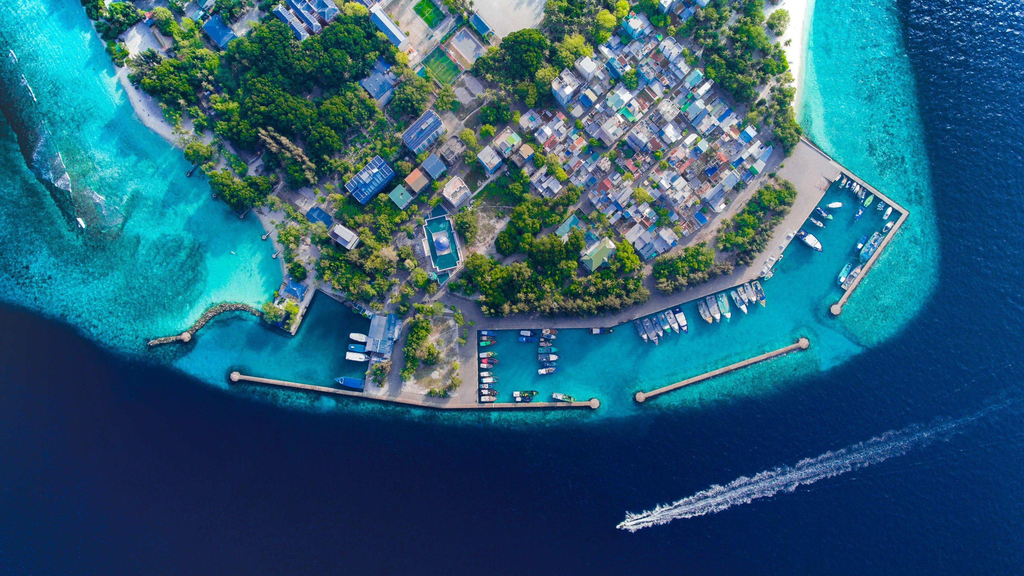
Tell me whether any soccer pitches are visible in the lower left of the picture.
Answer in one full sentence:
No, the scene shows no soccer pitch in the lower left of the picture.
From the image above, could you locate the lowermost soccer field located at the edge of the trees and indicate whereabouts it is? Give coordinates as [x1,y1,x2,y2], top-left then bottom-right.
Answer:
[421,43,466,87]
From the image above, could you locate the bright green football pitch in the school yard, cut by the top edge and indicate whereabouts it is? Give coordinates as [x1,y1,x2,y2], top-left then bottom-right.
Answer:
[409,0,449,33]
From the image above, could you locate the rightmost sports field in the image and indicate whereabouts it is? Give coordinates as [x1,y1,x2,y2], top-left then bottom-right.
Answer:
[473,0,545,39]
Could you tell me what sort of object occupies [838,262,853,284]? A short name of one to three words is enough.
boat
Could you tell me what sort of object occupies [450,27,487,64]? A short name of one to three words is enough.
sports court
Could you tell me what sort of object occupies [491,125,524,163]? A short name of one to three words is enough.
building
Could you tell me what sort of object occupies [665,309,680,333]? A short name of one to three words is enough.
boat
